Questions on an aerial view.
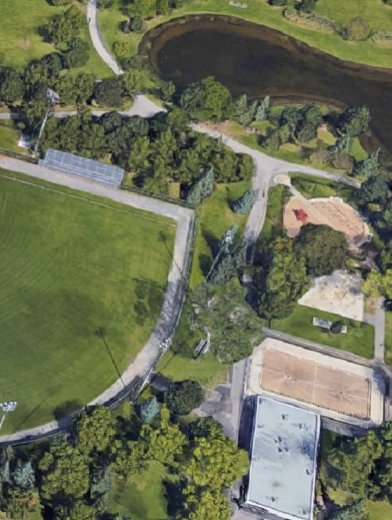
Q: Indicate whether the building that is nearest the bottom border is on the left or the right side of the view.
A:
right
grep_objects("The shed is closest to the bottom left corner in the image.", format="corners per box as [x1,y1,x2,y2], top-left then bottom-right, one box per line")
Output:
[147,370,173,394]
